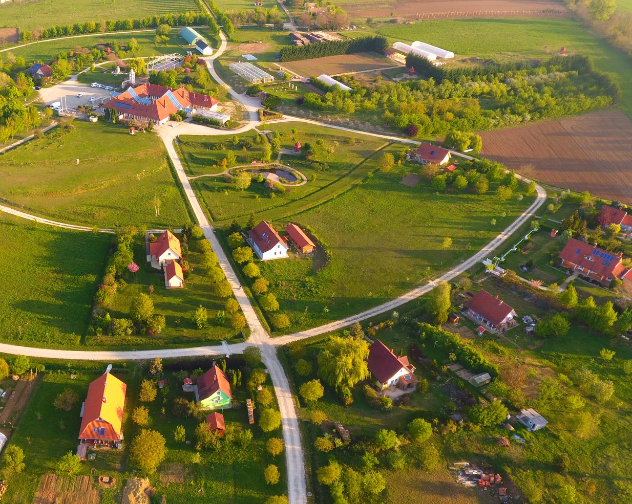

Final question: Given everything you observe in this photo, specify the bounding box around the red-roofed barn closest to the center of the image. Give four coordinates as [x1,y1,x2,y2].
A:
[285,223,315,254]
